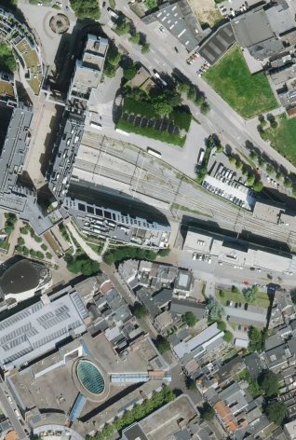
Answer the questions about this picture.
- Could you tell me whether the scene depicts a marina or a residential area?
residential area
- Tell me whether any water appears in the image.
No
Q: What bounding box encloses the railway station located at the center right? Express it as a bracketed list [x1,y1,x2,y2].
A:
[186,230,293,278]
